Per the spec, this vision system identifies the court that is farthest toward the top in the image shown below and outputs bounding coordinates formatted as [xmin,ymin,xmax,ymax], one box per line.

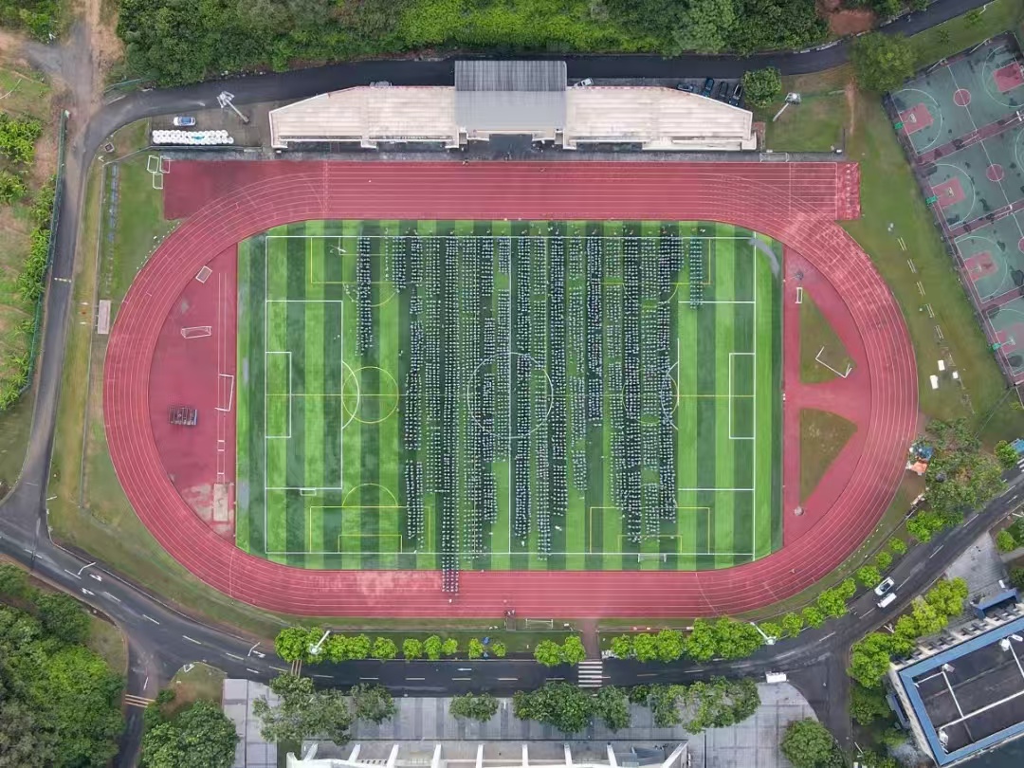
[882,33,1024,168]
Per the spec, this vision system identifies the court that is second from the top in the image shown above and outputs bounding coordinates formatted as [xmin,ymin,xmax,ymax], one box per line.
[917,122,1024,241]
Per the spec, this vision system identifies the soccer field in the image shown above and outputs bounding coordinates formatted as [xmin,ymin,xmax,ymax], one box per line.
[235,221,783,570]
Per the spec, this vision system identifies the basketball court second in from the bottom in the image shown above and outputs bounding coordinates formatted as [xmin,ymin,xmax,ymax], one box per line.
[949,210,1024,316]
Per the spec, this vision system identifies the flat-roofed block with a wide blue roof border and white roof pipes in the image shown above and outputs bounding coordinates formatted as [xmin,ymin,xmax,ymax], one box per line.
[884,601,1024,768]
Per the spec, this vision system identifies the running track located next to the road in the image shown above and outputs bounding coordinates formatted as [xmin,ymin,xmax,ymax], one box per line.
[101,160,918,619]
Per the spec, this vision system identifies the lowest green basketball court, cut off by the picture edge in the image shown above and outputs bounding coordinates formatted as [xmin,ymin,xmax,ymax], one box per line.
[982,298,1024,390]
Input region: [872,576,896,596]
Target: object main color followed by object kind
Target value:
white car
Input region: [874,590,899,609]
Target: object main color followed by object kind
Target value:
white vehicle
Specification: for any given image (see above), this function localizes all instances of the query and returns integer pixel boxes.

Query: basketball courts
[949,210,1024,316]
[982,298,1024,390]
[917,122,1024,241]
[882,33,1024,168]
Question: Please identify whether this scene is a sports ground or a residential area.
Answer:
sports ground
